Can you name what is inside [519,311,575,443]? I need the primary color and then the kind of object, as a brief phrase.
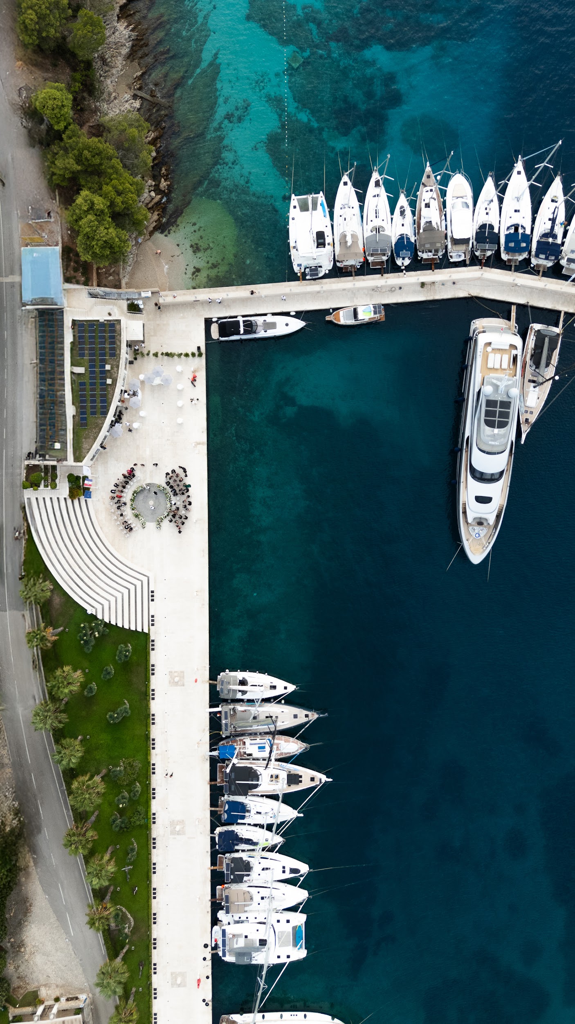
white boat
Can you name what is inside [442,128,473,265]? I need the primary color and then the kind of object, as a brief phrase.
white boat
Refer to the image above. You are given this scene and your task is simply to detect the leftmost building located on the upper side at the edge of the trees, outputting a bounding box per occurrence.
[21,247,69,311]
